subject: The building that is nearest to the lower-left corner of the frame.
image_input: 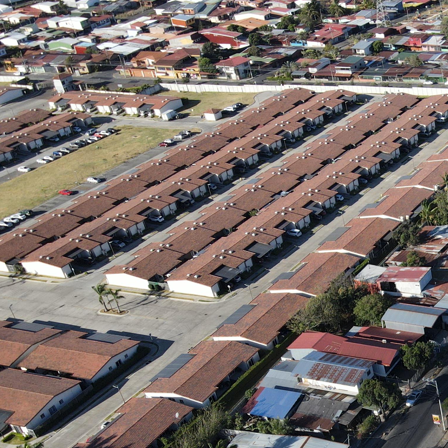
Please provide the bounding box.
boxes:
[0,367,82,435]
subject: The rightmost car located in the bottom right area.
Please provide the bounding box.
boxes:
[405,388,423,403]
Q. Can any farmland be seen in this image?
No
